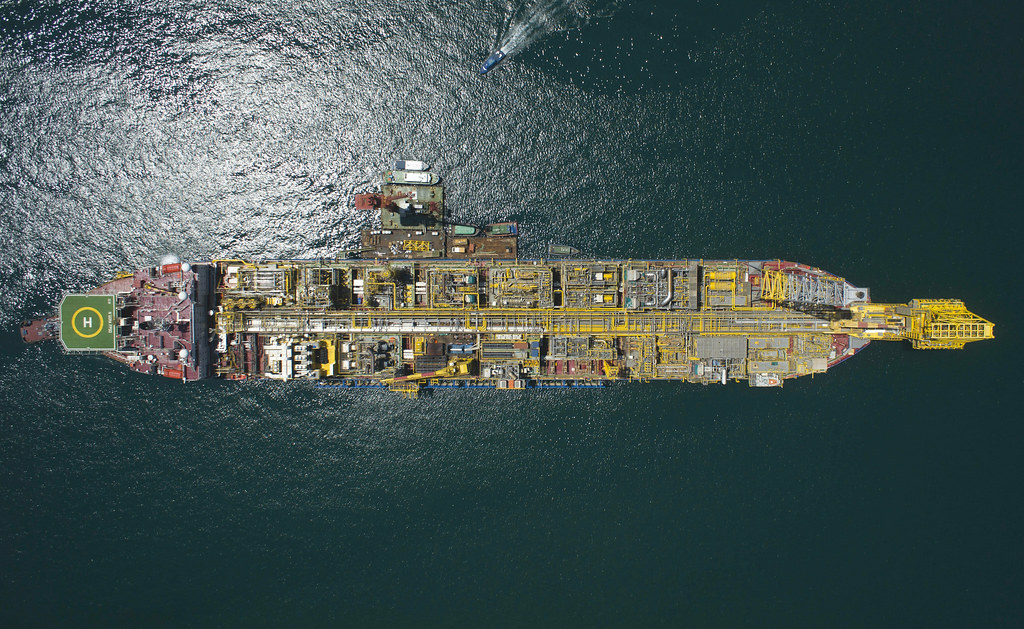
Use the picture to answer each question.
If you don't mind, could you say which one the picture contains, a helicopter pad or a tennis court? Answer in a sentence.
Looking from above, you can make out a helicopter pad.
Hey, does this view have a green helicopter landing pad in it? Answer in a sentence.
Yes, there is a green helicopter landing pad in the image.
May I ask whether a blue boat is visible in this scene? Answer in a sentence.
Yes, looking at the shot, I can spot a blue boat.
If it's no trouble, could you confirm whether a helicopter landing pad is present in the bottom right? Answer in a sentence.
No, looking in the bottom right, there is no helicopter landing pad.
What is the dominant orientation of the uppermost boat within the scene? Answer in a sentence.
What the image shows is the uppermost boat lying at an angle.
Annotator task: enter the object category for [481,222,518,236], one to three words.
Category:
boat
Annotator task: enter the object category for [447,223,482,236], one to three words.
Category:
boat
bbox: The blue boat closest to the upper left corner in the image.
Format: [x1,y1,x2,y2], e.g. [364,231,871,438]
[480,48,506,74]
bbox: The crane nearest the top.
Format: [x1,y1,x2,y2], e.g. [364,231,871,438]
[355,193,419,213]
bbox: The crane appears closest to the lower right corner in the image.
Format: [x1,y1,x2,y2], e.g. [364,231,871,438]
[826,316,912,330]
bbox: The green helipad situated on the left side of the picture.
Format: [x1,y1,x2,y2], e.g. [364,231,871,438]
[56,291,120,353]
